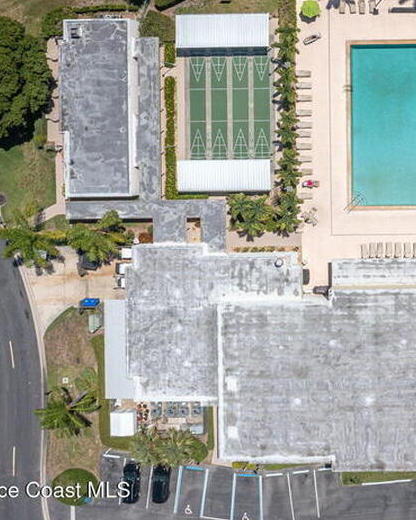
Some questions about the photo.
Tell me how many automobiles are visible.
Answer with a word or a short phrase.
2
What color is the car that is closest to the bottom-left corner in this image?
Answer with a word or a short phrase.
black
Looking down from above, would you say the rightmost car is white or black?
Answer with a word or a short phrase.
black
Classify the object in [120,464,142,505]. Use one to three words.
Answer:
car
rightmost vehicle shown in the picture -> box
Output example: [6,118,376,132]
[149,465,171,505]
